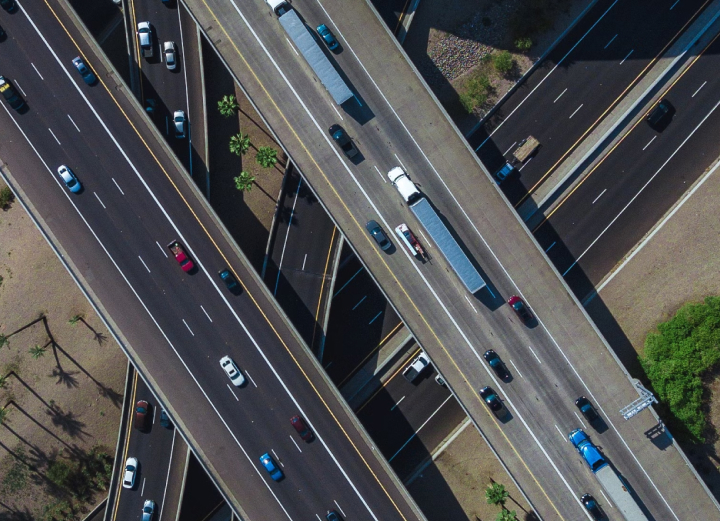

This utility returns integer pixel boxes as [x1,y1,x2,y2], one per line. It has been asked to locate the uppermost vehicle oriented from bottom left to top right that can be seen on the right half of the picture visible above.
[645,99,671,126]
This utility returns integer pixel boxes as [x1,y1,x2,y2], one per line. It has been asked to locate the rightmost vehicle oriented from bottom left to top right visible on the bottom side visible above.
[401,352,429,381]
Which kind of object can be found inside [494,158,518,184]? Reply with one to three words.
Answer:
vehicle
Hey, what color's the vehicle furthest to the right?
black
